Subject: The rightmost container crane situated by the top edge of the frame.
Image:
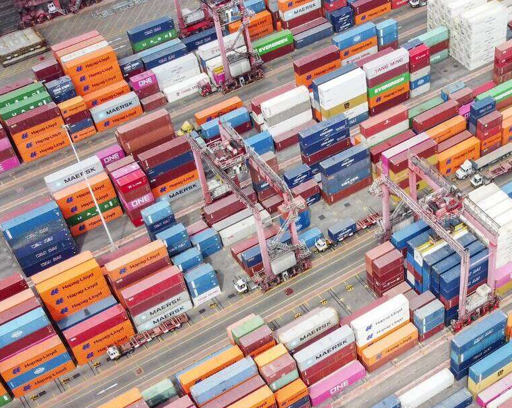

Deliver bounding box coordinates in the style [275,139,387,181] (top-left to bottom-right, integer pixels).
[165,0,264,89]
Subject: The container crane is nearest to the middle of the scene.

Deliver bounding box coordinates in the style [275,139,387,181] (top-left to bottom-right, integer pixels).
[175,116,314,290]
